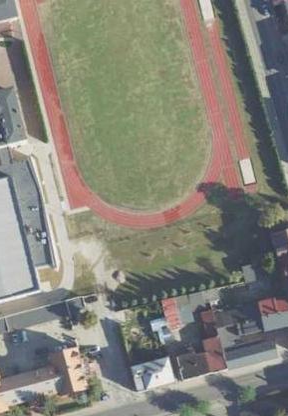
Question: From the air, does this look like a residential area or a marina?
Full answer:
It's a residential area.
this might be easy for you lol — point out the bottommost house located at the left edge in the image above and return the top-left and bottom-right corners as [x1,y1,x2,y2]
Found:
[0,346,88,415]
